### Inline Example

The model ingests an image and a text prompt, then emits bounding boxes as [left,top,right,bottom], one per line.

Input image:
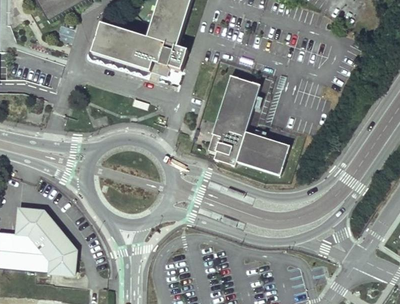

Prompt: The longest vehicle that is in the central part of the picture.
[164,153,189,174]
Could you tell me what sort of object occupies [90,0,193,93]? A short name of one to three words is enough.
building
